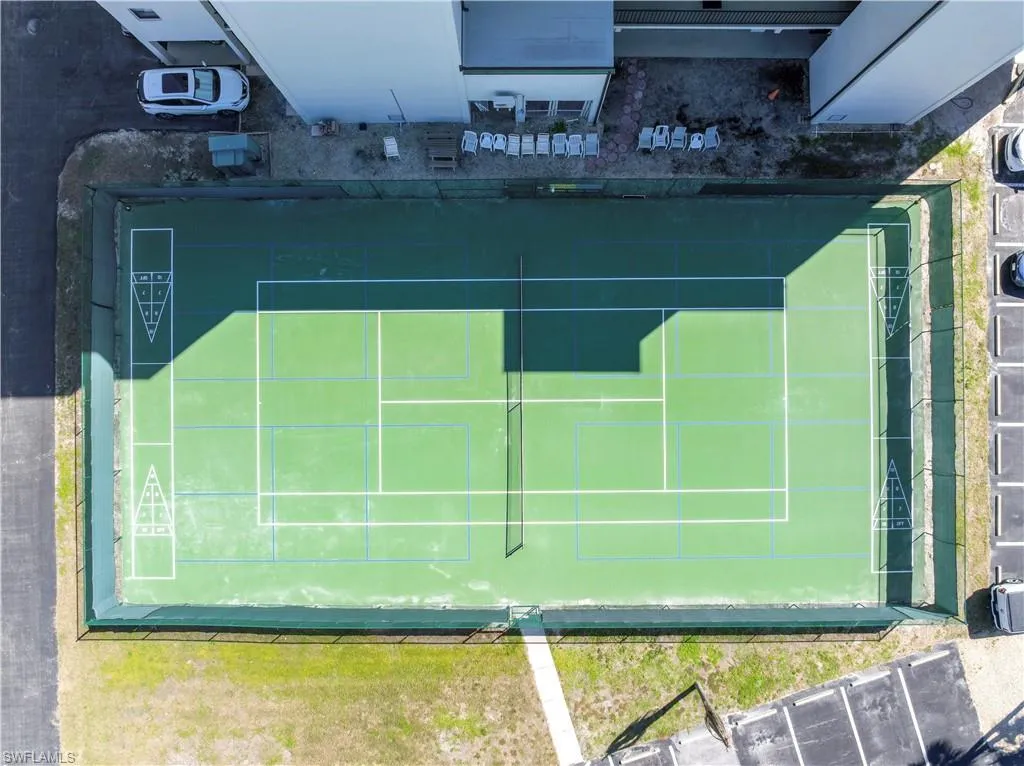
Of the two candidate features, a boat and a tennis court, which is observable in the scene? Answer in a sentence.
There is a tennis court in the scene.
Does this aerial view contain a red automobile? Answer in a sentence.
No, no red automobile is visible in the view.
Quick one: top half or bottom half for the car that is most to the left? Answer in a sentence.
The car that is most to the left sits in the top half of the picture.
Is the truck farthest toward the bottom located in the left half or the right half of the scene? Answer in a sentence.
The truck farthest toward the bottom is on the right side of the image.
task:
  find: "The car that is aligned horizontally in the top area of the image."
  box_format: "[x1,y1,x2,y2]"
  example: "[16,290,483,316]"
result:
[136,64,252,119]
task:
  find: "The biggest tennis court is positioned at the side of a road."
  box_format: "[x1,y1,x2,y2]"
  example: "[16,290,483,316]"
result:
[119,197,925,607]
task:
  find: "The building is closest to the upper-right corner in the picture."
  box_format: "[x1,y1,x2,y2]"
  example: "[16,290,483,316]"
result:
[810,0,1024,123]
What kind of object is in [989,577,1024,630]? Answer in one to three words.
truck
